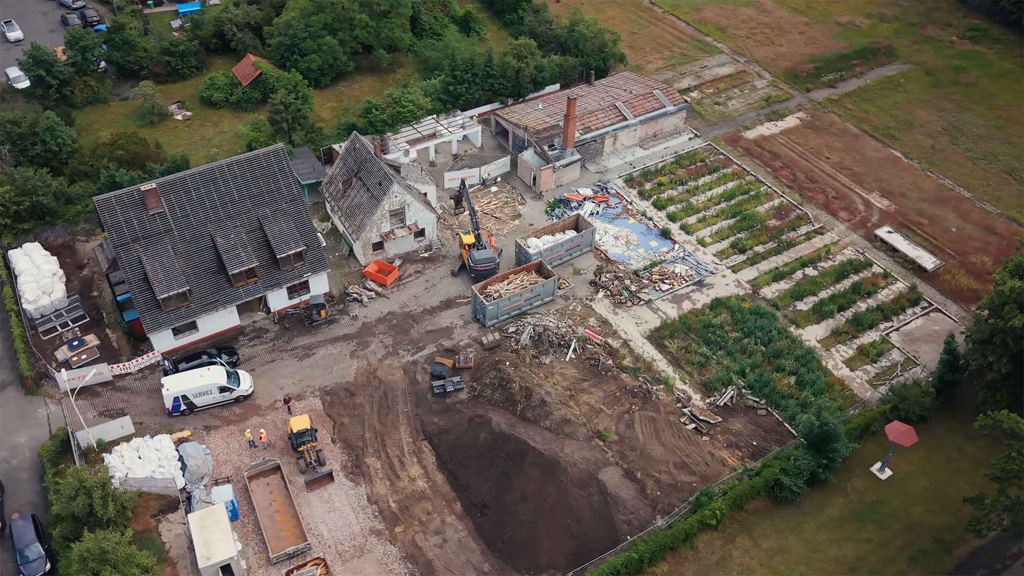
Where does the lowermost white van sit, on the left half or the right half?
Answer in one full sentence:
The lowermost white van appears in the left half of the scene.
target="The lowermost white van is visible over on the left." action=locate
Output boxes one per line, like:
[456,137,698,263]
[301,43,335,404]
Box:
[166,366,256,416]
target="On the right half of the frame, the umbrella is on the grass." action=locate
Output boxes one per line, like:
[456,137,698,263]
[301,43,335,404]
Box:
[871,420,921,480]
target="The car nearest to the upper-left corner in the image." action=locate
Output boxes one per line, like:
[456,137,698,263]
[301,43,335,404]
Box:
[0,11,29,45]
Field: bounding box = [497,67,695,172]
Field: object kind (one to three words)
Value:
shed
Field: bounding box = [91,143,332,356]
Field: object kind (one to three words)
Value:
house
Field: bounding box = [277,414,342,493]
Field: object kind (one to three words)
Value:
work vehicle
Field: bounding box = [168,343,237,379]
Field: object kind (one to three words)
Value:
car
